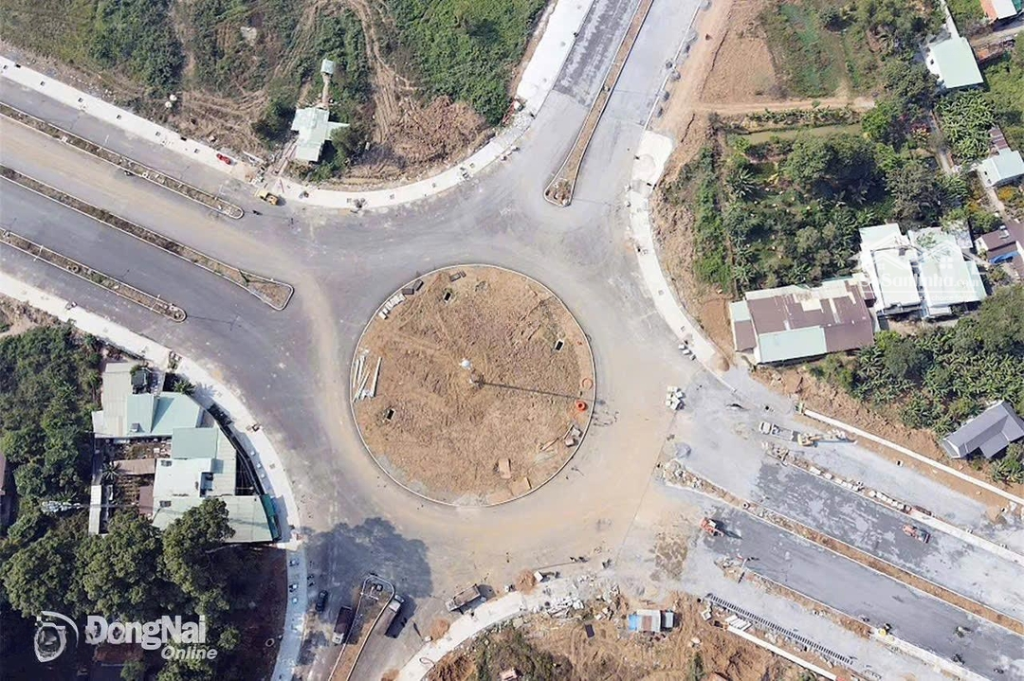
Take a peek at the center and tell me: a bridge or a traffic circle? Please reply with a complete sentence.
What appears at the center is a traffic circle.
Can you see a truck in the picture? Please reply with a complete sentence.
Yes, the picture does show a truck.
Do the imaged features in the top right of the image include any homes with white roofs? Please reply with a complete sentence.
Yes, a home with a white roof can be seen in the top right of the image.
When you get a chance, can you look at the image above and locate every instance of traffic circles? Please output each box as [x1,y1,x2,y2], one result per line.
[283,201,665,581]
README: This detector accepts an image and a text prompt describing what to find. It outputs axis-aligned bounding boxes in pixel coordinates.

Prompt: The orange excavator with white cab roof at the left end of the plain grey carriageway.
[697,514,725,539]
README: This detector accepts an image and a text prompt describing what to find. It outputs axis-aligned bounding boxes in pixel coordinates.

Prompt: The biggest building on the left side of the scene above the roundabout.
[291,108,349,165]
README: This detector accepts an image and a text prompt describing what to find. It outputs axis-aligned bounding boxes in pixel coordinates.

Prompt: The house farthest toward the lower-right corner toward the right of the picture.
[940,403,1024,459]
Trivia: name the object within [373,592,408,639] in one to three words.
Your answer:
truck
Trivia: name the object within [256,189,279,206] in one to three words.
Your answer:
work vehicle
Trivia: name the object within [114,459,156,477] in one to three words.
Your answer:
shed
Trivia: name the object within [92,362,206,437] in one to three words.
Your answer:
house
